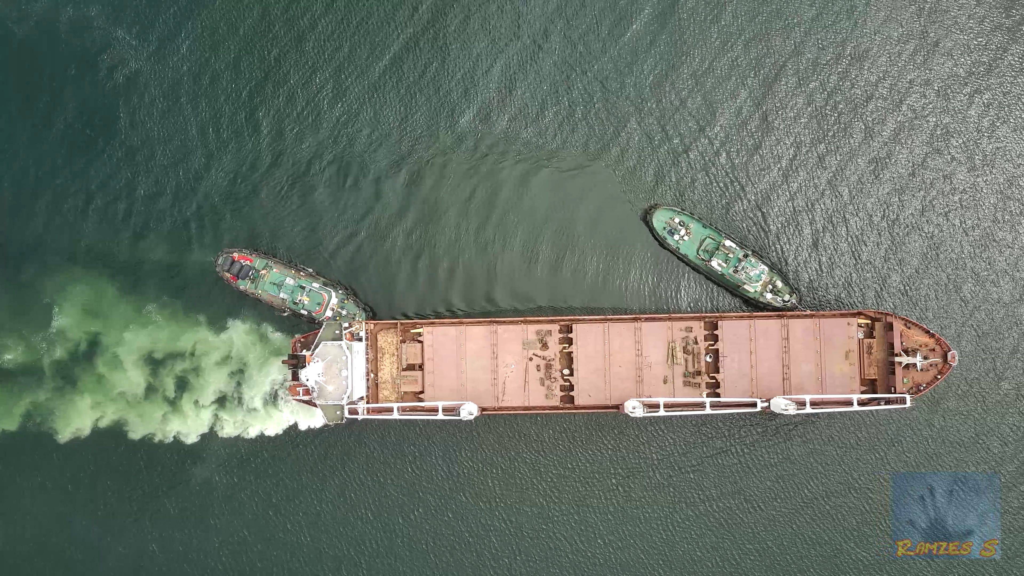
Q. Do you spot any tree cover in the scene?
No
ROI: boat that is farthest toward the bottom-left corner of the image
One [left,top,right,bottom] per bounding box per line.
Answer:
[287,384,305,397]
